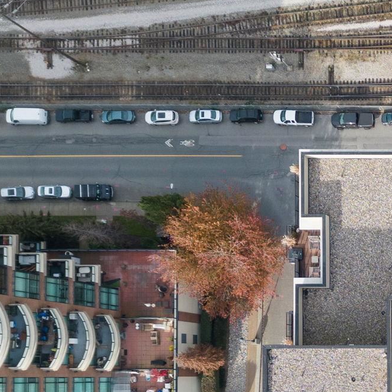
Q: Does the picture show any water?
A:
No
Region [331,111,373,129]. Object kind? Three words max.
vehicle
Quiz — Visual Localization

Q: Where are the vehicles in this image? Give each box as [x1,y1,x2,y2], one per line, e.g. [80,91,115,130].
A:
[382,110,392,125]
[188,107,223,124]
[0,183,35,200]
[73,183,112,200]
[101,108,136,124]
[331,111,373,129]
[5,106,48,125]
[144,108,179,125]
[273,108,315,126]
[229,107,262,124]
[37,183,71,199]
[52,106,95,124]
